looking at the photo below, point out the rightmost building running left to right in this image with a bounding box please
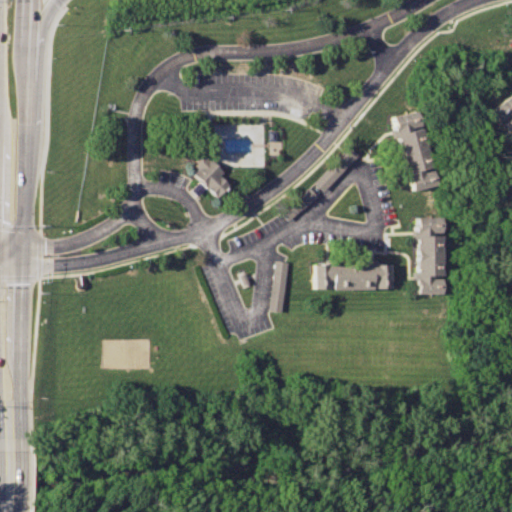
[311,260,392,292]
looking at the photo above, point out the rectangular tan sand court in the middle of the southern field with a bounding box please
[100,339,150,370]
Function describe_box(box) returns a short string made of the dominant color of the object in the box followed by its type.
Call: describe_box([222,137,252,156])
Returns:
blue swimming pool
